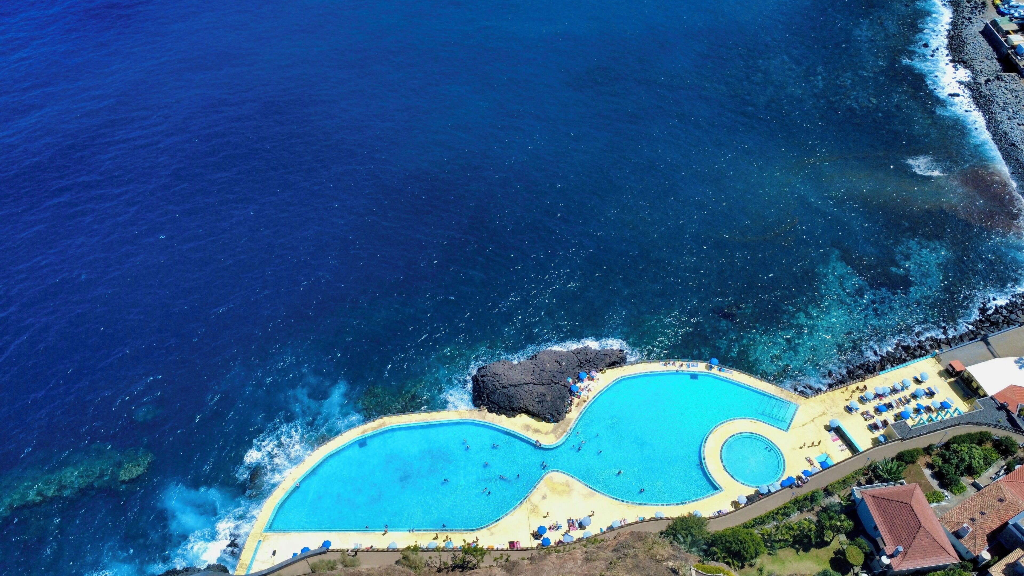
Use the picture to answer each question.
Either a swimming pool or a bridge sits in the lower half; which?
swimming pool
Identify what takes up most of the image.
water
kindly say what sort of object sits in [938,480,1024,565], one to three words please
house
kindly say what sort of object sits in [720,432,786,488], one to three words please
swimming pool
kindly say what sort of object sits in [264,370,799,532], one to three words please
swimming pool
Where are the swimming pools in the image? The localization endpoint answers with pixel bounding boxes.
[264,370,799,532]
[720,432,786,488]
